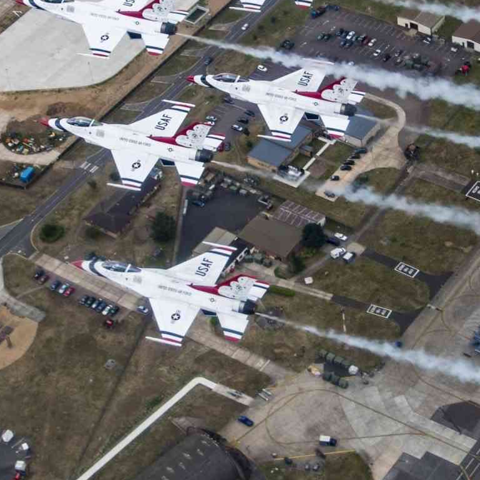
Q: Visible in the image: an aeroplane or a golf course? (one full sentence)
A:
Visible in the photo is an aeroplane.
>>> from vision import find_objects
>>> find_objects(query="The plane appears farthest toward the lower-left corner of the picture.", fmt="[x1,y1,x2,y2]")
[68,241,269,347]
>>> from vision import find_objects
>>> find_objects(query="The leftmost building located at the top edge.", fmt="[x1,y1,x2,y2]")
[397,8,445,34]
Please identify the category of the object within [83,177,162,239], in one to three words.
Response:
building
